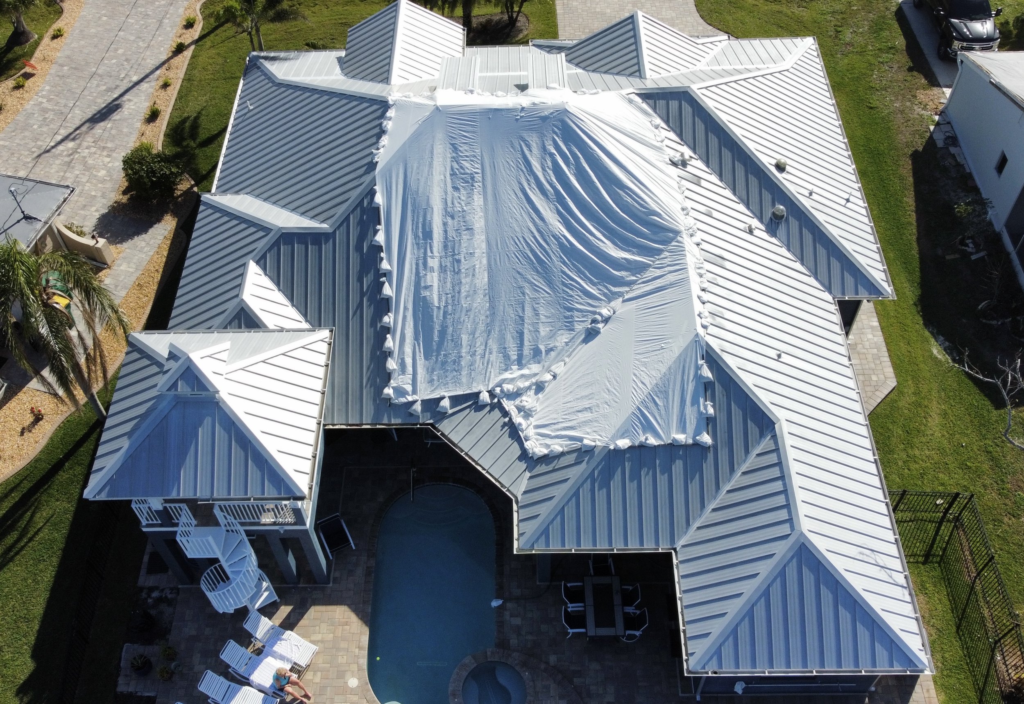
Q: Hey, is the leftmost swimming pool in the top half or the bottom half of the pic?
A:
bottom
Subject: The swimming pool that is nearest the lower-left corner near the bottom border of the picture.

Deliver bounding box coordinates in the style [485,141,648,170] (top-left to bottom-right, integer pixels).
[354,472,508,704]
